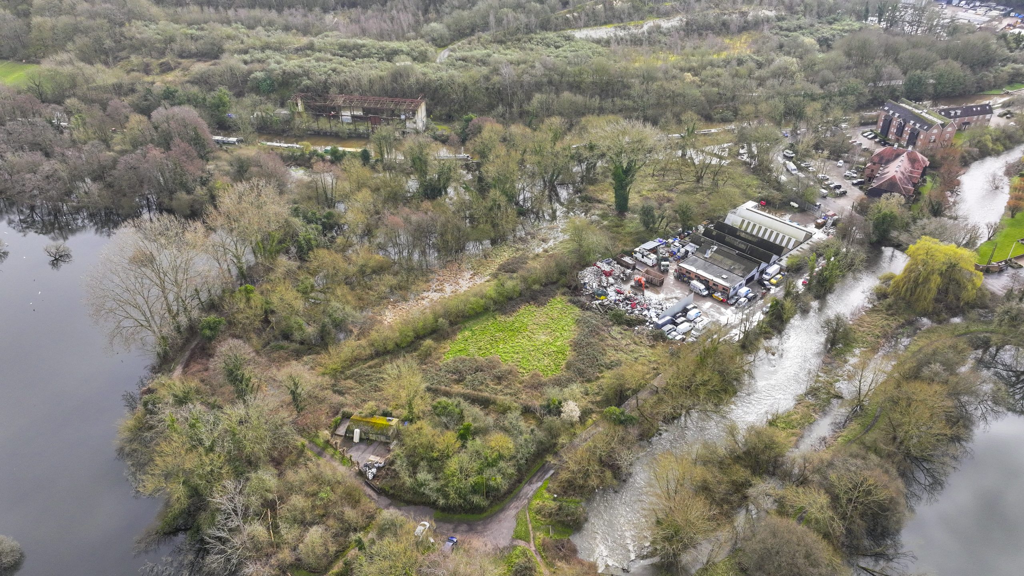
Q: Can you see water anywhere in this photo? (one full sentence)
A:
Yes, water shows up in the scene.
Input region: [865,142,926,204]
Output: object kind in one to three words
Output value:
barn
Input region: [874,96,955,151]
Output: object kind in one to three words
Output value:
building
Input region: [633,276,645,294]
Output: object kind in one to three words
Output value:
vehicle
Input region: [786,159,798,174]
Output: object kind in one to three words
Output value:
vehicle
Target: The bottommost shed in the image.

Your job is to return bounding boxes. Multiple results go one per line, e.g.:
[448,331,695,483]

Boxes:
[345,410,401,443]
